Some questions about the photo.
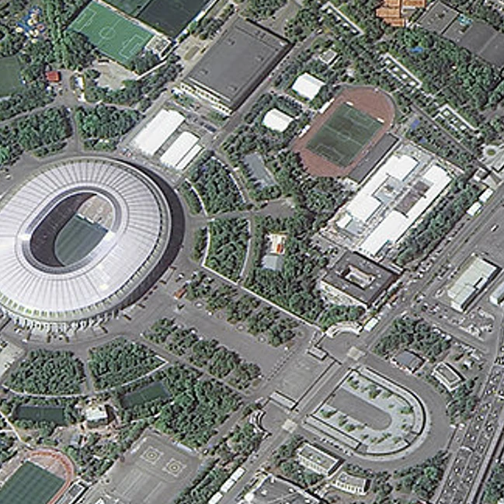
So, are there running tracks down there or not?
Yes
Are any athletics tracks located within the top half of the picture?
Yes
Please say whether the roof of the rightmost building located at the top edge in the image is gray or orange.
gray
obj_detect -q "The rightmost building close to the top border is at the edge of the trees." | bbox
[459,19,504,72]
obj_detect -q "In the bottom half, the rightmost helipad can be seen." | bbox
[163,457,186,476]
